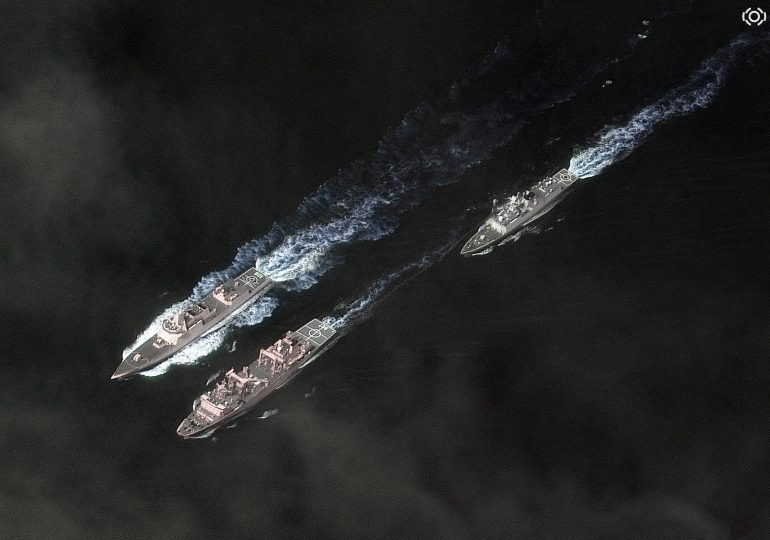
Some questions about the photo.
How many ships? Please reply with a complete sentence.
Altogether the scene contains 3 ships.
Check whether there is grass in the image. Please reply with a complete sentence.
No, grass can't be seen anywhere here.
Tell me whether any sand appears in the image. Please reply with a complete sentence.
No, no sand is visible.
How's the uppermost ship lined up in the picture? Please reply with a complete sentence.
In this picture, the uppermost ship lies on a diagonal.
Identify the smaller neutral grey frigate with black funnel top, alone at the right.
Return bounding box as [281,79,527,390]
[461,169,578,256]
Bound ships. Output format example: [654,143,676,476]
[111,268,271,381]
[461,169,578,256]
[177,319,336,438]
